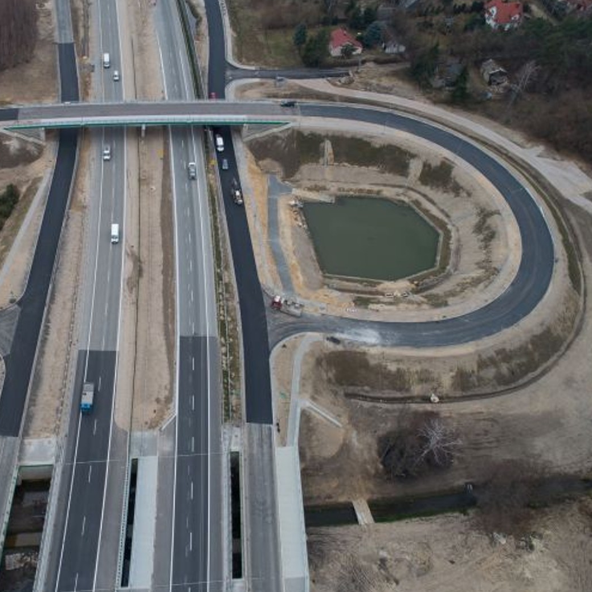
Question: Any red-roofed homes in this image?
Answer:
Yes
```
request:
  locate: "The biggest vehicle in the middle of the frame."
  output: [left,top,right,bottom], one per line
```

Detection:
[268,296,305,315]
